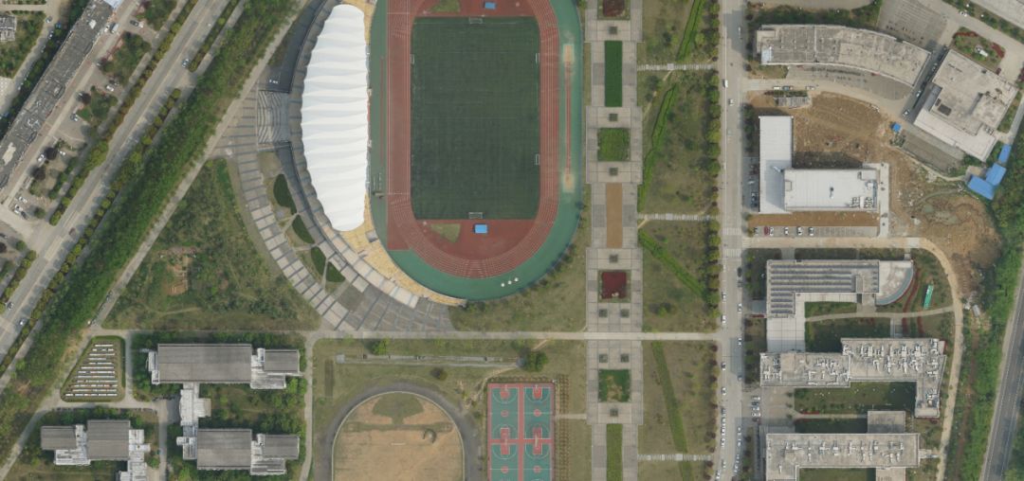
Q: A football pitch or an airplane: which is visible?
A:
football pitch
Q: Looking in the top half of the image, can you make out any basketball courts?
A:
No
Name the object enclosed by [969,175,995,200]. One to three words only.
shed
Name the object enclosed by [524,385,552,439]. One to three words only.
basketball court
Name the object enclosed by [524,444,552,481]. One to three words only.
basketball court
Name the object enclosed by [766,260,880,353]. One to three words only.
building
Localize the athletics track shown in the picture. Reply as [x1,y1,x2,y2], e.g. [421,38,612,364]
[370,0,582,301]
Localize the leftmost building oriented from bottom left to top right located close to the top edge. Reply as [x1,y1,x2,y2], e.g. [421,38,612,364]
[0,0,123,188]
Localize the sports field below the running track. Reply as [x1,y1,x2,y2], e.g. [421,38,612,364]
[314,381,482,481]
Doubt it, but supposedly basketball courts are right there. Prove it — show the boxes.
[524,444,552,481]
[491,444,518,481]
[491,385,518,439]
[524,385,552,439]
